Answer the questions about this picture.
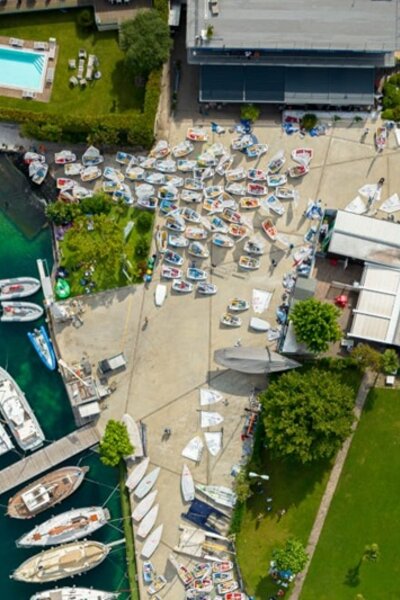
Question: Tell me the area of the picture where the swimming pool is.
top left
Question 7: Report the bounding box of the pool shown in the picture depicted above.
[0,36,59,102]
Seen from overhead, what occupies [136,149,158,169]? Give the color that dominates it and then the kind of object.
white boat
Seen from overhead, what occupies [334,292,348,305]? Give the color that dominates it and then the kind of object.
red umbrella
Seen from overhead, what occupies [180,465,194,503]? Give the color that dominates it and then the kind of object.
white boat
